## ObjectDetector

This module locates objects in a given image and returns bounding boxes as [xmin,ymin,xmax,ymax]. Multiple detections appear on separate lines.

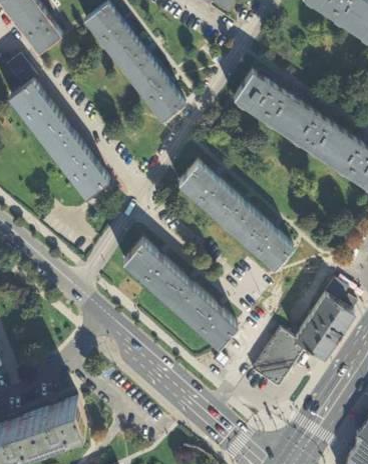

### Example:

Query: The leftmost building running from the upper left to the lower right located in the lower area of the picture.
[124,230,237,352]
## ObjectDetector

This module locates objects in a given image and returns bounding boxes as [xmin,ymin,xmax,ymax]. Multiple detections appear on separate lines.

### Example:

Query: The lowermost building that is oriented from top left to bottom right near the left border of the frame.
[11,76,111,201]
